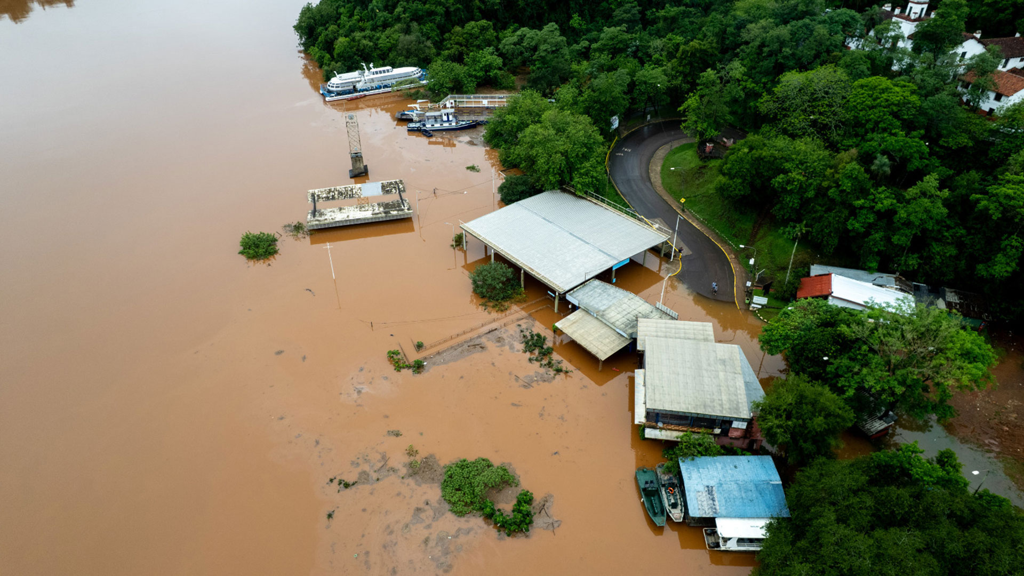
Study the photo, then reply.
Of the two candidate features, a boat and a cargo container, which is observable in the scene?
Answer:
boat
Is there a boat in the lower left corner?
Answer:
No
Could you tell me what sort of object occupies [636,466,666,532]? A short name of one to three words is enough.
boat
